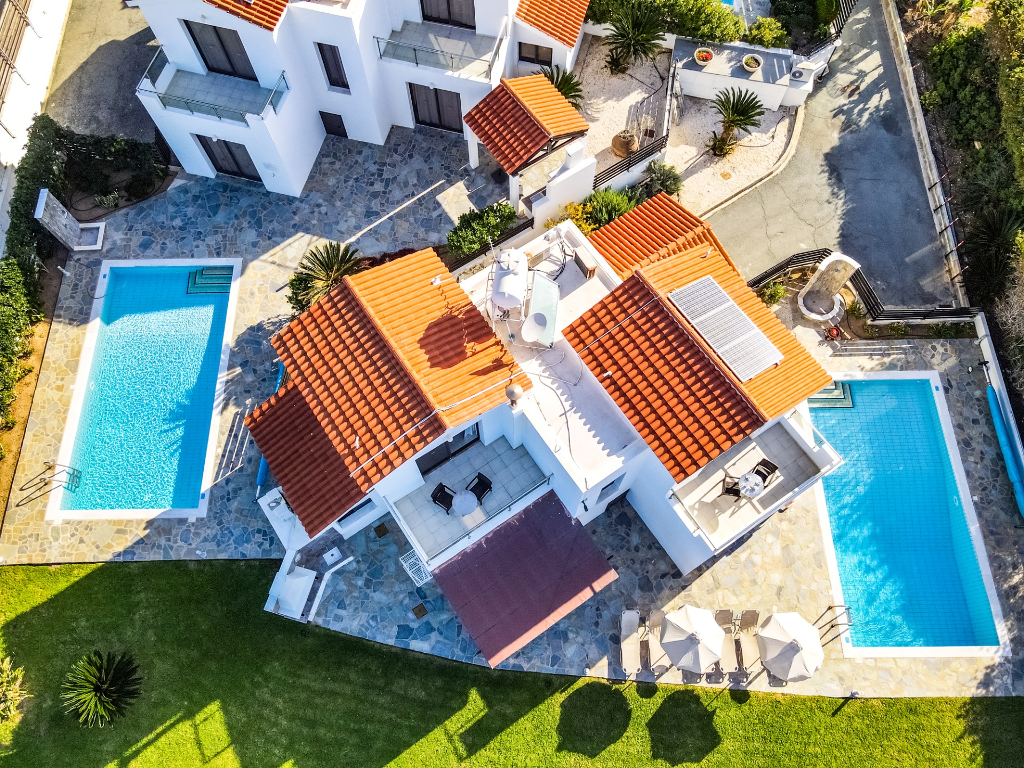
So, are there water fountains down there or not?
Yes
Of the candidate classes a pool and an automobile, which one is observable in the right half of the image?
pool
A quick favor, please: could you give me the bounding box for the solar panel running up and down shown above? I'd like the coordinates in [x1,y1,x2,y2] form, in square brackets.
[532,271,562,354]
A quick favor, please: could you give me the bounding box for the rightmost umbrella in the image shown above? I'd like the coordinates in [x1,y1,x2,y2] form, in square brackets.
[755,612,822,683]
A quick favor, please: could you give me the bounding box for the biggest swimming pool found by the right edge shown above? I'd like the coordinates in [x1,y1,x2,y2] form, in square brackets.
[798,371,1012,665]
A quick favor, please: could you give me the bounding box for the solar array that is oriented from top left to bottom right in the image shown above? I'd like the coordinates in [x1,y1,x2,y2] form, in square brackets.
[670,272,784,380]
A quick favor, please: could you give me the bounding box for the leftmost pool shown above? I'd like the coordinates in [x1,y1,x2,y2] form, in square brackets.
[45,257,242,524]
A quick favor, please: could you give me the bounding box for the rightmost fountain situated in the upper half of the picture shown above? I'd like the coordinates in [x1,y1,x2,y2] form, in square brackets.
[792,258,854,333]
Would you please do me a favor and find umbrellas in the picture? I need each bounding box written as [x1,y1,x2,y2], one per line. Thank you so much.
[755,612,822,683]
[660,604,726,675]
